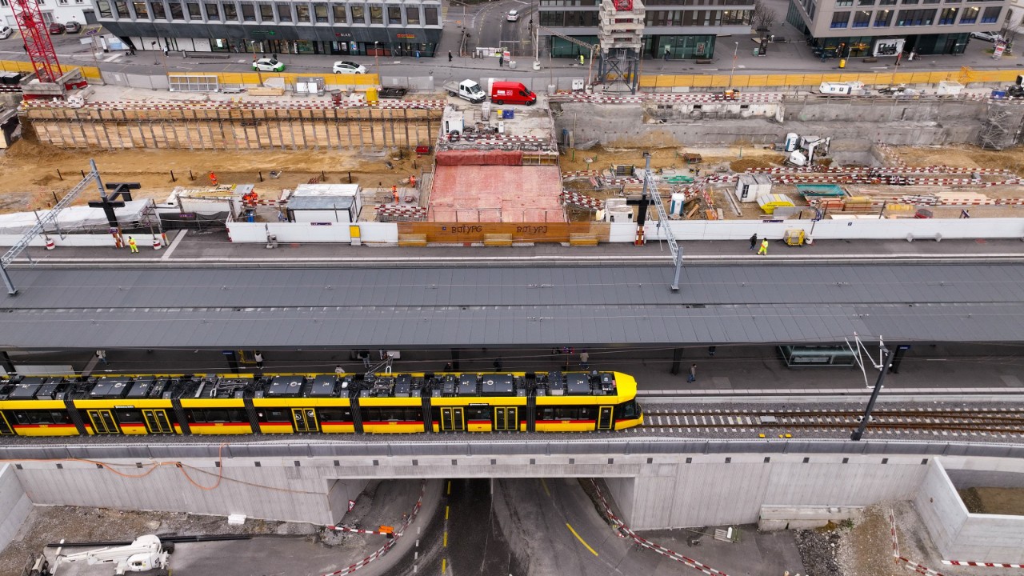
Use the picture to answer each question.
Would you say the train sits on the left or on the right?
left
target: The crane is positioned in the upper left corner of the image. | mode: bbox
[12,0,89,96]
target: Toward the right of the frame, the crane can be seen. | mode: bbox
[597,0,652,92]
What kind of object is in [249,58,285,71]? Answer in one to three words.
vehicle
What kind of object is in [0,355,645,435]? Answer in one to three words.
train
